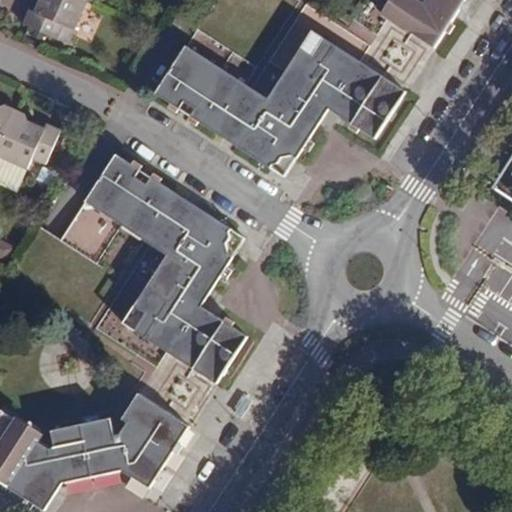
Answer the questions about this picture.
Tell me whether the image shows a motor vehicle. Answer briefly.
Yes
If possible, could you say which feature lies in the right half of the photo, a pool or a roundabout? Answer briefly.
roundabout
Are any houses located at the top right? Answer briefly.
Yes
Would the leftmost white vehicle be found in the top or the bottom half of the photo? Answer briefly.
top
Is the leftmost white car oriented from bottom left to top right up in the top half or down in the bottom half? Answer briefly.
bottom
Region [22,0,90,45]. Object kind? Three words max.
house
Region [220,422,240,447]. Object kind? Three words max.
car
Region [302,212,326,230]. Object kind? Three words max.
car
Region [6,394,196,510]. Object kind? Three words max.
building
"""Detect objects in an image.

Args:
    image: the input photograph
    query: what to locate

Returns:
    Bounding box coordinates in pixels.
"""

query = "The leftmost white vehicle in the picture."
[132,140,160,162]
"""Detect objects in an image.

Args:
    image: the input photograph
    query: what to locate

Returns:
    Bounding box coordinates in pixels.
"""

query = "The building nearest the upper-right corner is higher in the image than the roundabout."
[386,0,466,47]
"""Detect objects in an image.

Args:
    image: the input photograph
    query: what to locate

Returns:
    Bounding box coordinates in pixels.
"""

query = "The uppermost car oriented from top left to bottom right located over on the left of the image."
[148,106,173,127]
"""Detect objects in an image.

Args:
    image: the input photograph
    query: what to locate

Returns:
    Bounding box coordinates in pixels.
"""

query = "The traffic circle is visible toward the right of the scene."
[286,192,439,343]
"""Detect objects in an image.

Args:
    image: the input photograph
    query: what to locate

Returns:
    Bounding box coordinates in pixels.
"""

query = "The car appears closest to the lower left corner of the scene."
[197,458,217,483]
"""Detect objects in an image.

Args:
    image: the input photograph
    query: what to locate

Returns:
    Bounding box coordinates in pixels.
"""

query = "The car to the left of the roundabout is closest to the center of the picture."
[236,209,260,228]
